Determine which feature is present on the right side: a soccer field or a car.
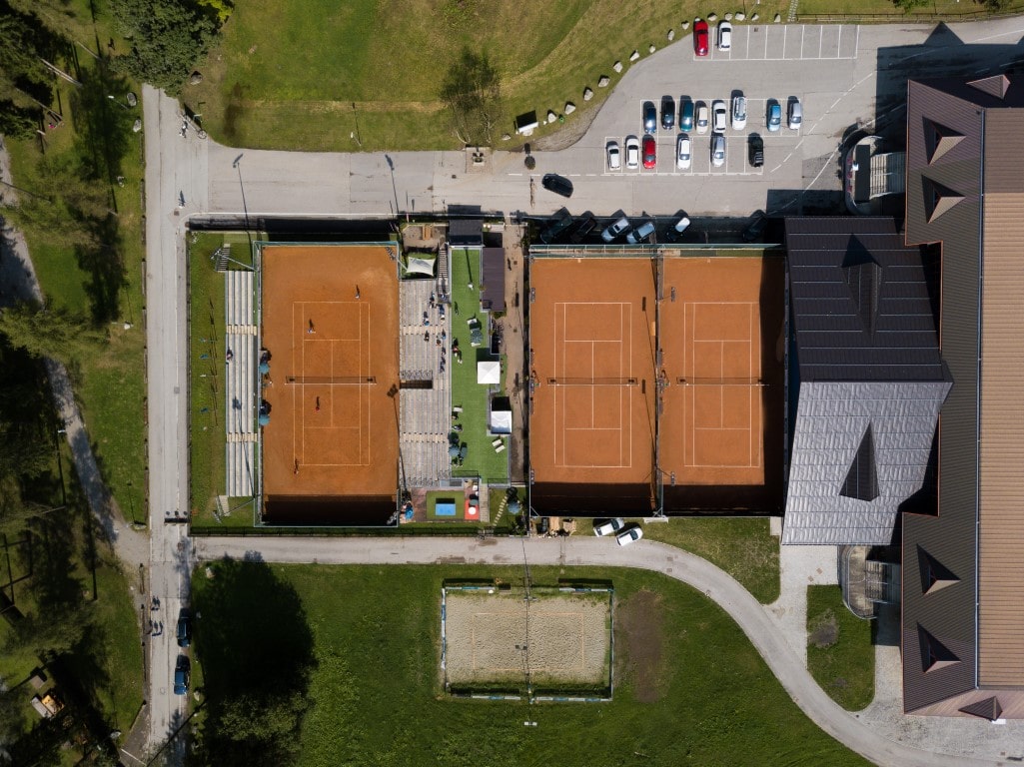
car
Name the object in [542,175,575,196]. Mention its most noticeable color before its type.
black car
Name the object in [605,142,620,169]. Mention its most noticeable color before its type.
white car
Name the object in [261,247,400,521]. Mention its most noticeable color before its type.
orange tennis court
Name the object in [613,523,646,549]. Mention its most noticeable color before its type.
white car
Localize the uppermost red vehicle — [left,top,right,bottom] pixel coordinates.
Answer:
[693,21,710,57]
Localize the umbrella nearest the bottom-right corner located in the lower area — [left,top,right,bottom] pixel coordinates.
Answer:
[507,503,521,516]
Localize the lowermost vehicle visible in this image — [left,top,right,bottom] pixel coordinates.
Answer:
[173,662,190,695]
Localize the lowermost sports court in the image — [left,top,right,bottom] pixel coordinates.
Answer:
[446,596,606,683]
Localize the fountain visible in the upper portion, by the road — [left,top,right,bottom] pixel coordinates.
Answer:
[469,144,486,165]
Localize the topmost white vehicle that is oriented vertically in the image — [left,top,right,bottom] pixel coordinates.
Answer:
[717,22,731,51]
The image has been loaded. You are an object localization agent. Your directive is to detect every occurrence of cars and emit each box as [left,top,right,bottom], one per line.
[693,21,710,57]
[766,103,782,132]
[602,216,630,240]
[605,142,620,169]
[695,105,711,132]
[613,523,646,549]
[730,93,748,130]
[747,135,765,168]
[624,137,640,169]
[642,102,658,132]
[175,614,193,647]
[627,220,655,243]
[660,98,676,127]
[642,139,657,168]
[542,175,575,196]
[787,99,803,130]
[679,97,695,131]
[593,518,626,538]
[712,101,728,134]
[569,215,598,244]
[717,22,731,51]
[173,662,190,695]
[710,134,727,168]
[675,135,692,168]
[665,214,691,241]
